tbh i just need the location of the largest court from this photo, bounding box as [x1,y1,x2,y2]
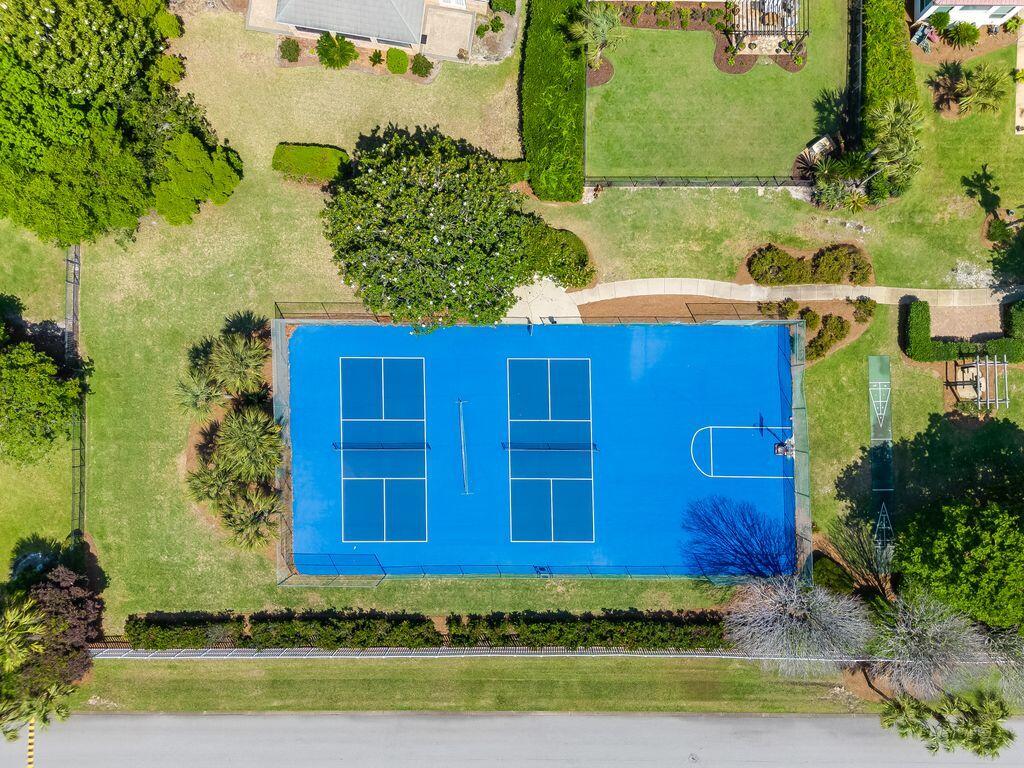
[289,325,798,576]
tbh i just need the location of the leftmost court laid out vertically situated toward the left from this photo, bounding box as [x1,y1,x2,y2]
[339,357,428,543]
